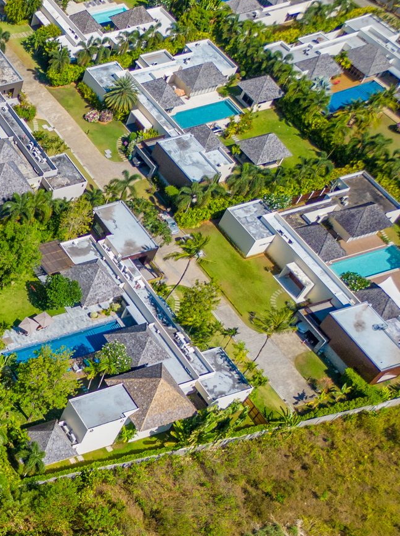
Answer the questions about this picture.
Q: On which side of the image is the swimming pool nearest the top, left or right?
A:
left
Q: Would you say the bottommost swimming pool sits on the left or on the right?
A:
left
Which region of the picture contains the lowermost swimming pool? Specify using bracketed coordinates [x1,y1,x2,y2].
[0,317,125,366]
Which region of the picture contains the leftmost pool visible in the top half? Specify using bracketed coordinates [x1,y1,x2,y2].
[91,2,131,22]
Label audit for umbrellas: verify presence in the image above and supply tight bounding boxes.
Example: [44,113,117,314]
[31,311,54,333]
[17,318,40,339]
